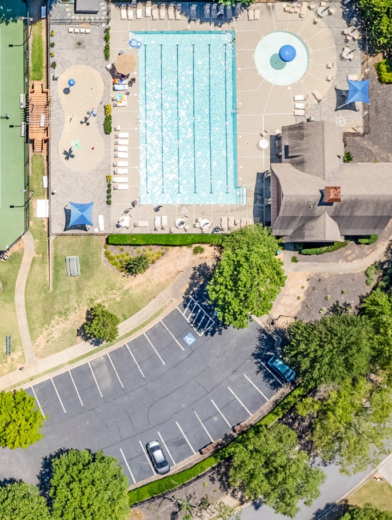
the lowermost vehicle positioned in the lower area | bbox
[146,439,171,475]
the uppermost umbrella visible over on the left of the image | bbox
[113,52,136,76]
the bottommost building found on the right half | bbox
[264,121,392,242]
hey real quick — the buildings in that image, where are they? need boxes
[75,0,99,18]
[264,121,392,242]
